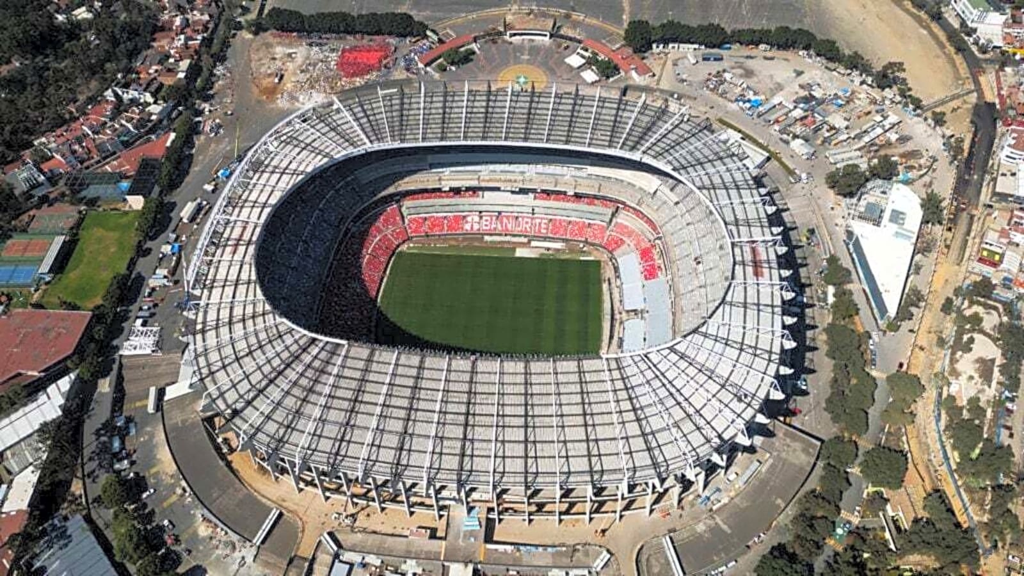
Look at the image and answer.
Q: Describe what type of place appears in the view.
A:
sports ground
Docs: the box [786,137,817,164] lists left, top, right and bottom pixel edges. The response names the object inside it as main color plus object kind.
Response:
white tent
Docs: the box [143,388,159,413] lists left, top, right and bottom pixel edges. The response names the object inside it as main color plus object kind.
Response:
white vehicle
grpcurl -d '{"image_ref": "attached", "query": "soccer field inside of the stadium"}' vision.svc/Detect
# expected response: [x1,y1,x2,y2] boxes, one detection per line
[378,251,602,359]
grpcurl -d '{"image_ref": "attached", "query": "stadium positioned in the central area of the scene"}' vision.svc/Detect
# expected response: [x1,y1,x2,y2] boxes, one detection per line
[181,77,794,525]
